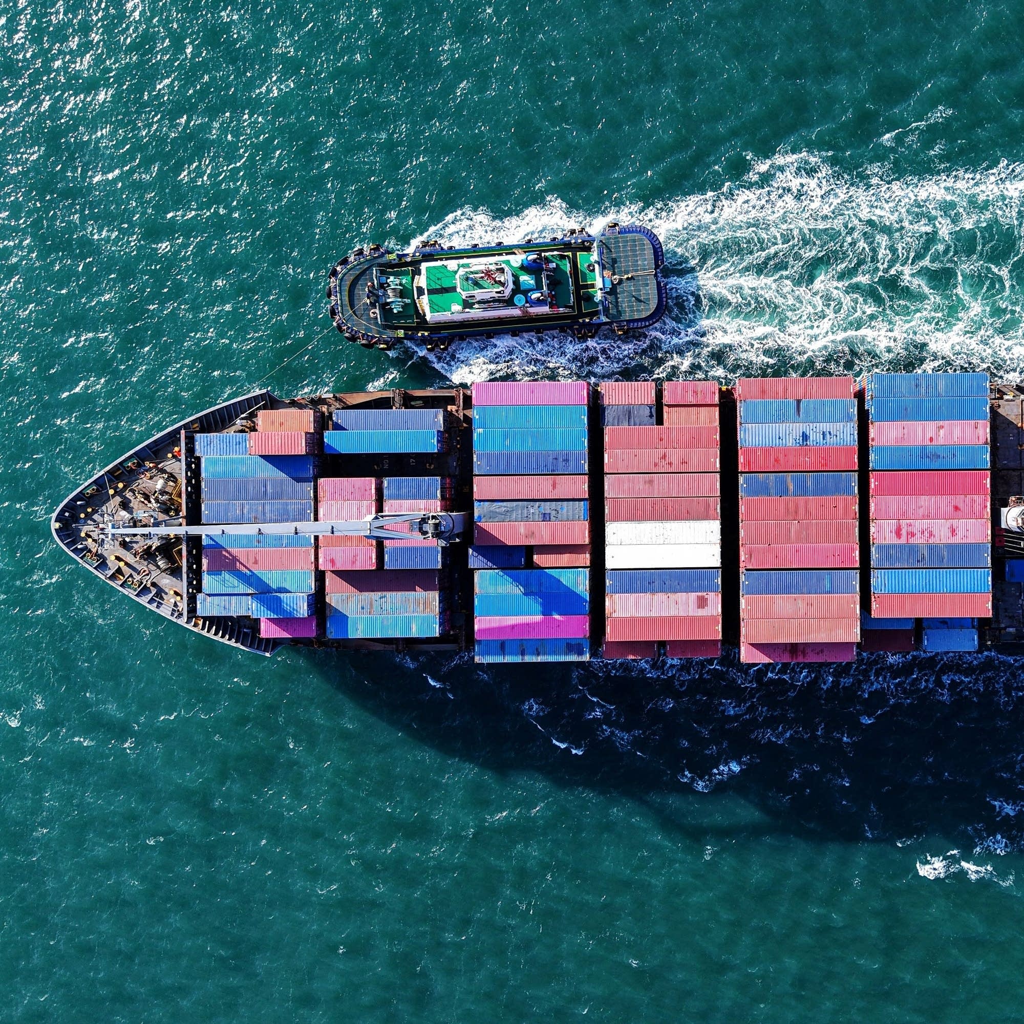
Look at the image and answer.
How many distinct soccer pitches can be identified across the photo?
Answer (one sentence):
The photo contains no soccer pitches.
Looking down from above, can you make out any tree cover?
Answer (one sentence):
No, there's no tree cover in this view.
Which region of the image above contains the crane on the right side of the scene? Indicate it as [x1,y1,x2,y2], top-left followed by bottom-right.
[990,491,1024,554]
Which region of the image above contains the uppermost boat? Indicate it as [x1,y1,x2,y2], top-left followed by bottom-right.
[323,222,667,352]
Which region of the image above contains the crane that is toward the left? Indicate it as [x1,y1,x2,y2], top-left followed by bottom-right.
[108,508,475,547]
